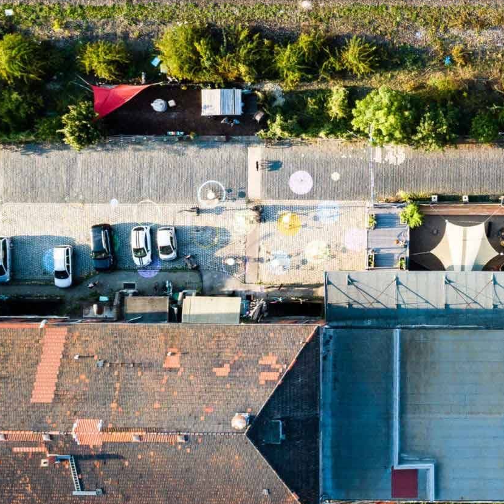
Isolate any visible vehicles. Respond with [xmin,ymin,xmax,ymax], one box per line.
[128,226,155,268]
[88,223,117,271]
[154,226,179,261]
[0,237,13,283]
[49,245,74,288]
